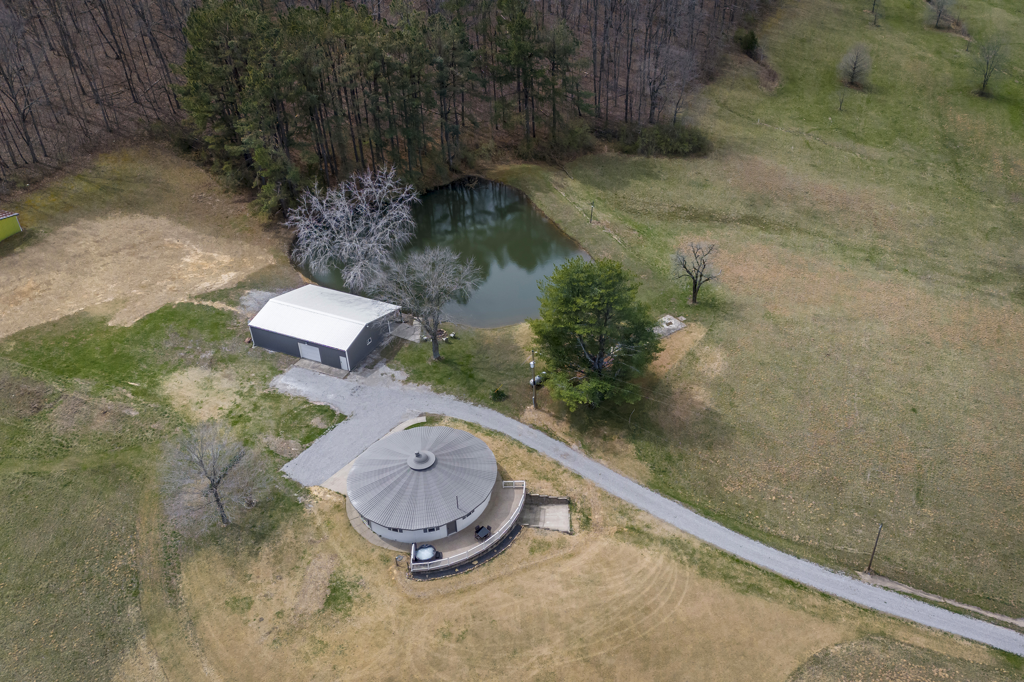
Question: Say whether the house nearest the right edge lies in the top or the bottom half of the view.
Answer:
bottom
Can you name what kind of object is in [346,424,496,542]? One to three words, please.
house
